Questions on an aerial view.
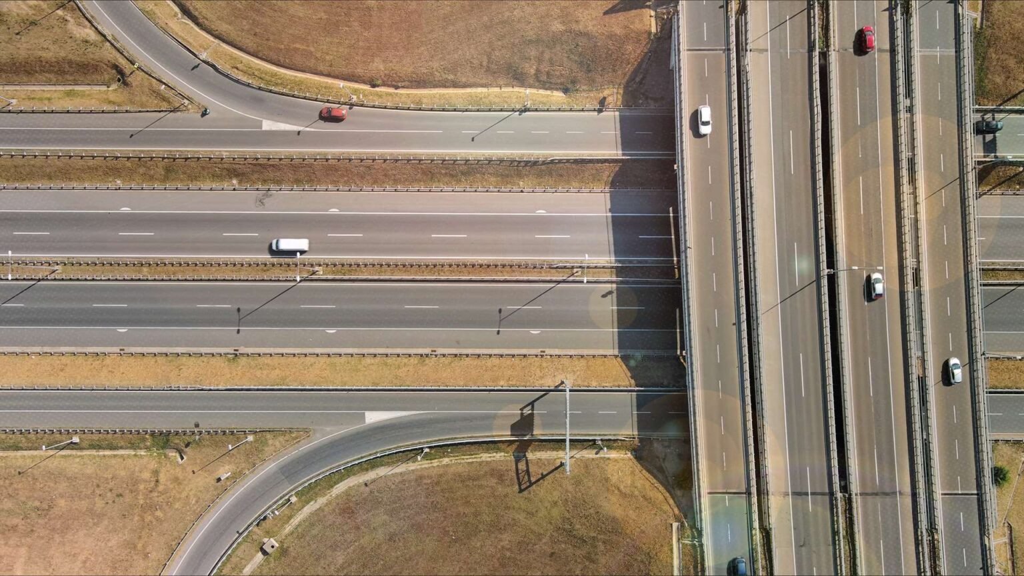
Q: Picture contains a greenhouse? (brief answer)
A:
No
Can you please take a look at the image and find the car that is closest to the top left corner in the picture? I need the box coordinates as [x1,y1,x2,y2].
[320,107,348,120]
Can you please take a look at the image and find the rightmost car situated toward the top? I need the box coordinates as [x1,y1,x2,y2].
[973,121,1004,134]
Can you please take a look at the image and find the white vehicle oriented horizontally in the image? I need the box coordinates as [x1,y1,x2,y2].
[272,238,309,253]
